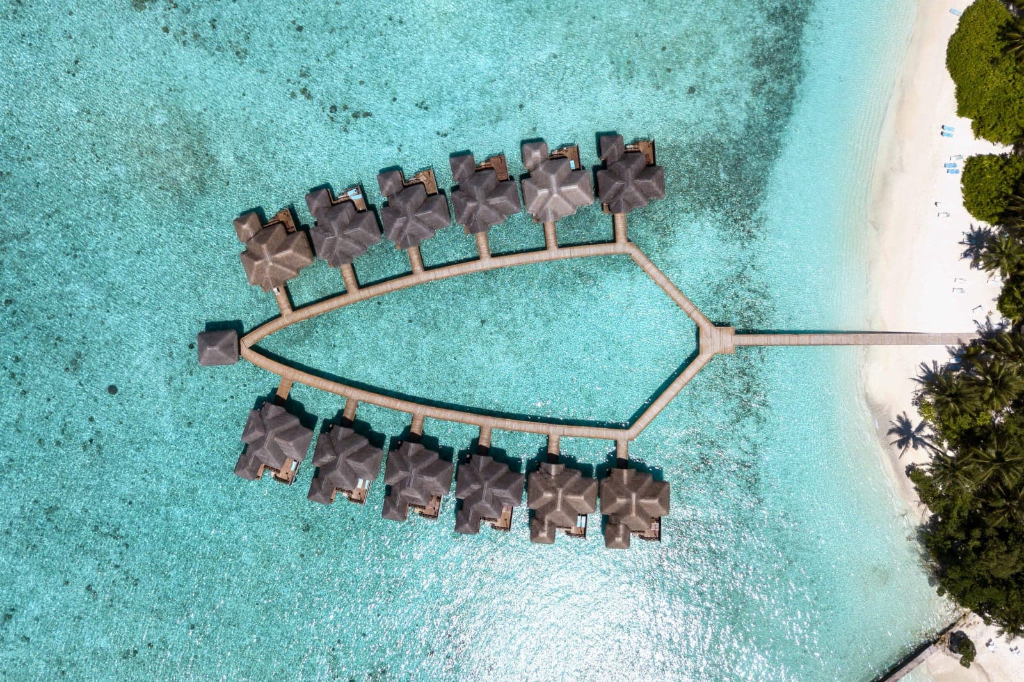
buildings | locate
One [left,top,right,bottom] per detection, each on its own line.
[230,206,314,295]
[526,459,597,541]
[379,436,454,522]
[447,152,523,239]
[198,330,245,365]
[305,420,384,508]
[374,165,453,253]
[519,141,593,226]
[232,399,314,488]
[599,463,668,546]
[452,450,524,534]
[595,134,666,218]
[302,183,383,271]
